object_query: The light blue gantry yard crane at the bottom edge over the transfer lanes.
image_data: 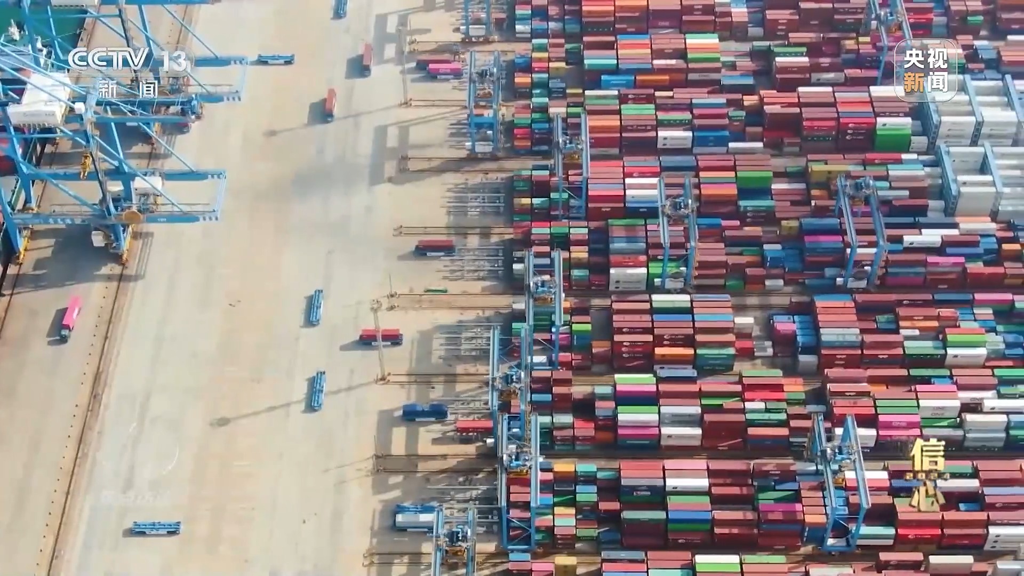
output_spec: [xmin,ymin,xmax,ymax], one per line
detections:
[431,507,482,576]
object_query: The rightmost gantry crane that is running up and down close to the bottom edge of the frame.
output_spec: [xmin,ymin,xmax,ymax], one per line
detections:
[806,415,870,557]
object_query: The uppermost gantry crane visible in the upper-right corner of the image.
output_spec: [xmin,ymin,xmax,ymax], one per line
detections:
[867,0,917,100]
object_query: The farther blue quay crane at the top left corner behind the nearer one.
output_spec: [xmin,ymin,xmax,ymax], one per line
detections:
[0,0,247,148]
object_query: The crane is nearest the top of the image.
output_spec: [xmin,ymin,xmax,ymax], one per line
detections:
[459,0,495,42]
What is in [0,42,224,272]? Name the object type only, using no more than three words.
container crane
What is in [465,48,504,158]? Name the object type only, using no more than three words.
container crane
